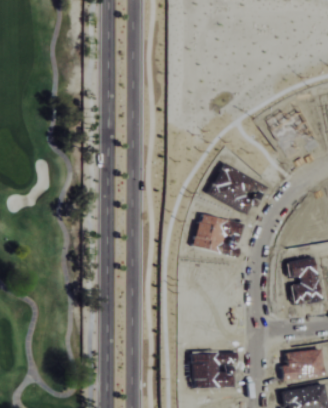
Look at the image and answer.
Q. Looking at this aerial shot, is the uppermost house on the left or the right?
right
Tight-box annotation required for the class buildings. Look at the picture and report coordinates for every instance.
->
[280,386,328,408]
[211,166,268,214]
[192,354,238,388]
[284,351,326,382]
[288,258,324,304]
[194,214,244,256]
